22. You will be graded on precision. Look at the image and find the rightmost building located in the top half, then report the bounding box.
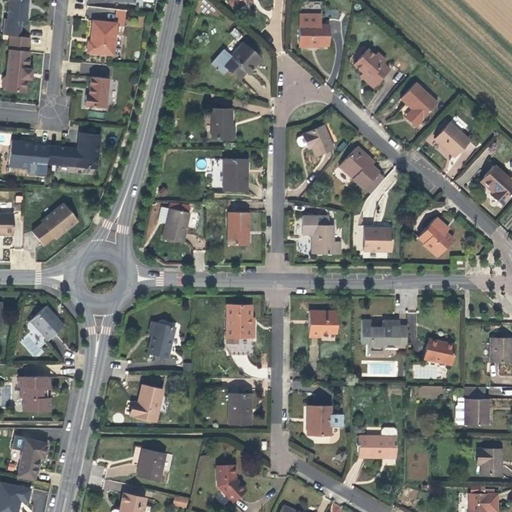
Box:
[482,166,512,208]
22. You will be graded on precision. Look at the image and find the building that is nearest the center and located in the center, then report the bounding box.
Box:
[228,212,251,246]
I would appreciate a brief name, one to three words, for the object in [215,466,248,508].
house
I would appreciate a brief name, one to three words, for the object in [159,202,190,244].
house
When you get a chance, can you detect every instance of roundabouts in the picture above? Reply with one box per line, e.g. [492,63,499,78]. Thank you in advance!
[66,242,136,312]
